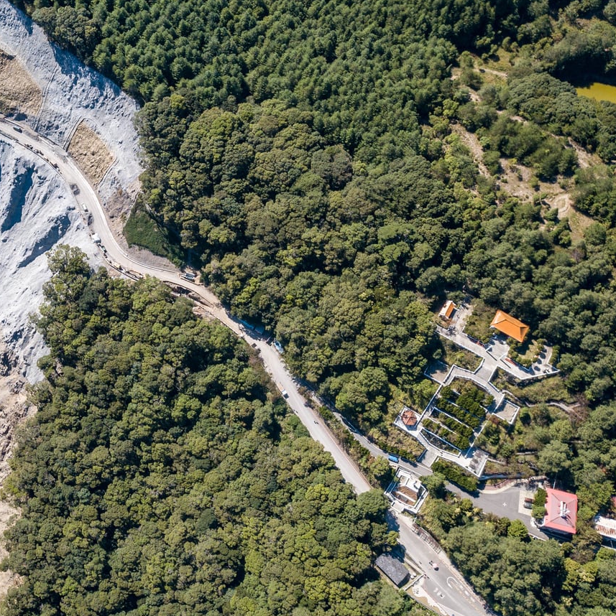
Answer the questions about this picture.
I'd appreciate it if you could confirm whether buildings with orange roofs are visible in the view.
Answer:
Yes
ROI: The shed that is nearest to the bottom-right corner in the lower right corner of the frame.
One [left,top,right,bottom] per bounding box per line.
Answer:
[595,516,616,540]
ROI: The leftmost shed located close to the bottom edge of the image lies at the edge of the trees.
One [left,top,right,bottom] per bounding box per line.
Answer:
[375,554,410,586]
